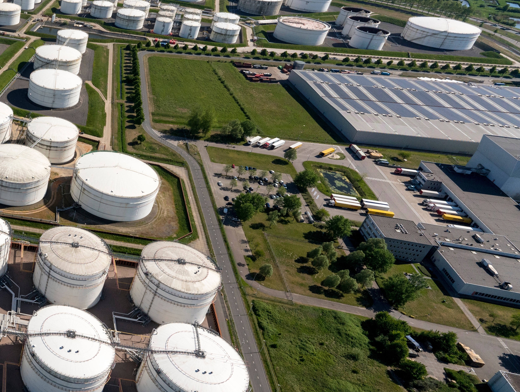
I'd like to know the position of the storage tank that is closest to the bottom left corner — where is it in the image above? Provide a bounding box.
[17,305,117,392]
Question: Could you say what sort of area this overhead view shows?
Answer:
industrial area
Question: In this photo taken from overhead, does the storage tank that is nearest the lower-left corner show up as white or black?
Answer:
white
